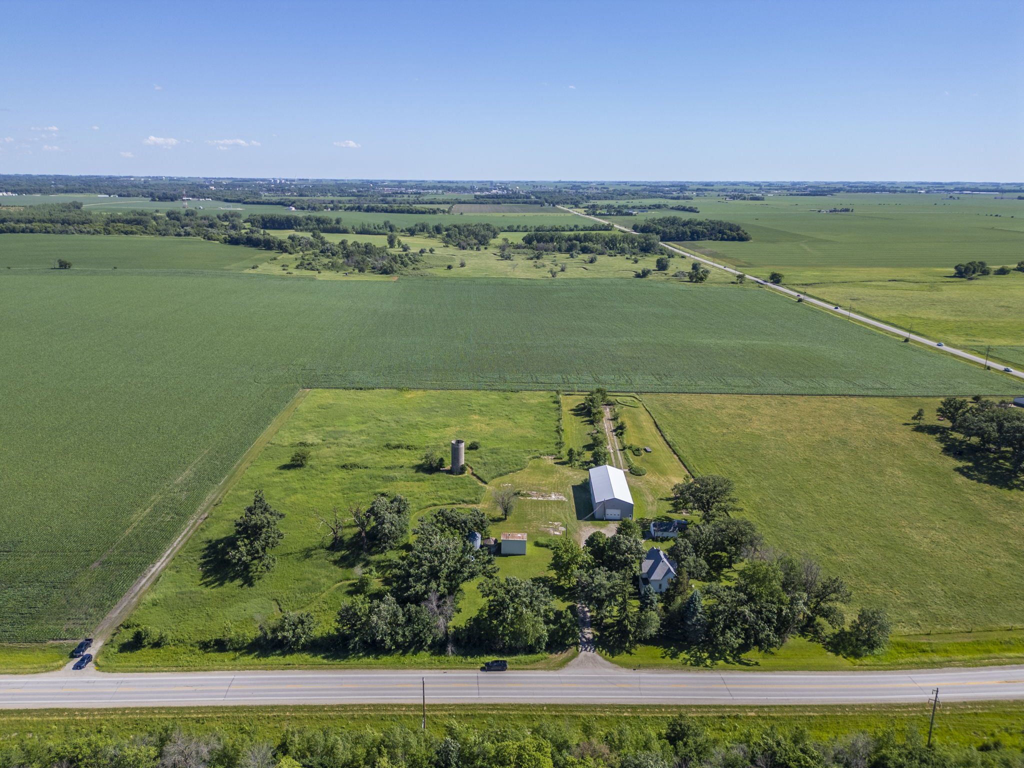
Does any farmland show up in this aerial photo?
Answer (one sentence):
Yes, there's farmland in this view.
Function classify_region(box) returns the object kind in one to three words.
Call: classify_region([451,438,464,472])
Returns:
silo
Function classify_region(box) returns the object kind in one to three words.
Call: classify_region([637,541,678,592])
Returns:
house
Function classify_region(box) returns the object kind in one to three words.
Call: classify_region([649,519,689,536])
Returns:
building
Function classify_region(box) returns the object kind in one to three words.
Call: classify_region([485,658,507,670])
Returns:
vehicle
